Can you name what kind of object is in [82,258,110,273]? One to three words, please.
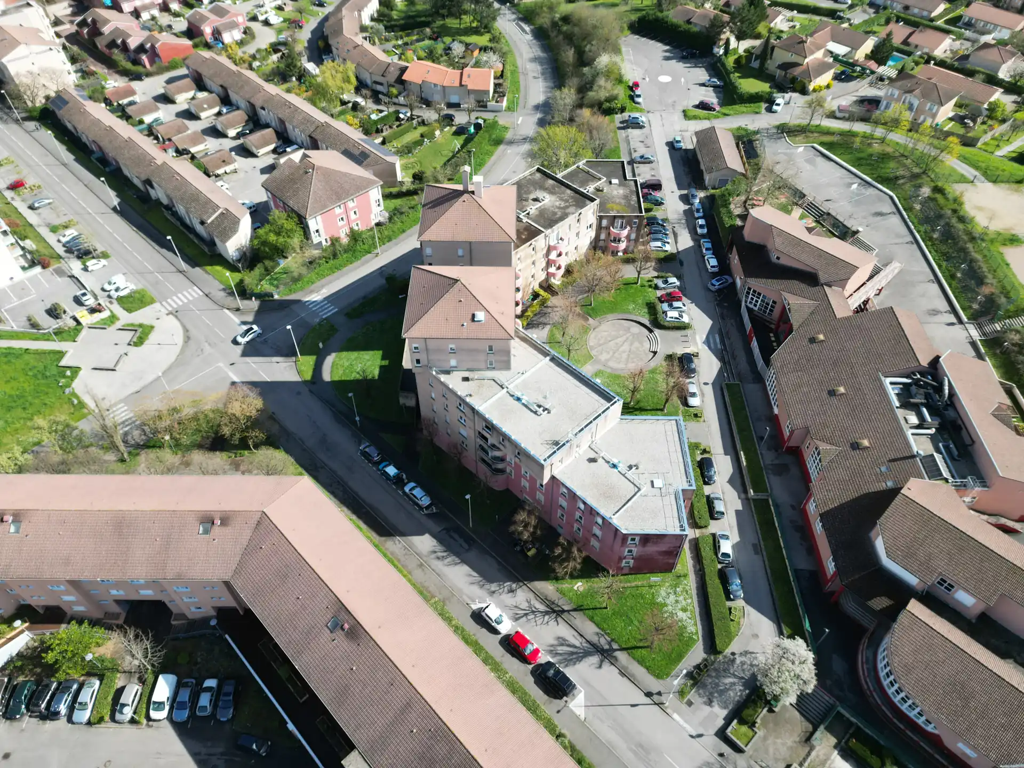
car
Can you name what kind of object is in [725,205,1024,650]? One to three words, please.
building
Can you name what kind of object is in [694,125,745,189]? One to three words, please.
shed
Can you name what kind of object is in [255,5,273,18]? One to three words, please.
vehicle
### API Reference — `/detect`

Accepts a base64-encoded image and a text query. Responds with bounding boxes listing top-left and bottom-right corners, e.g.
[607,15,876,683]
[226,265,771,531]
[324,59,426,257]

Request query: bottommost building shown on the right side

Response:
[870,599,1024,768]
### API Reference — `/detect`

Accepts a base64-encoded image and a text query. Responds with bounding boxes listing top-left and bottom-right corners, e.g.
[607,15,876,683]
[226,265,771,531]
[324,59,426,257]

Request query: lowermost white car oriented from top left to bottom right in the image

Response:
[477,599,514,638]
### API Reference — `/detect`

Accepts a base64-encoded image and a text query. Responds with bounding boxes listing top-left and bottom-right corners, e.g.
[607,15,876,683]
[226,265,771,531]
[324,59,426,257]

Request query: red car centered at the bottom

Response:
[508,628,542,665]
